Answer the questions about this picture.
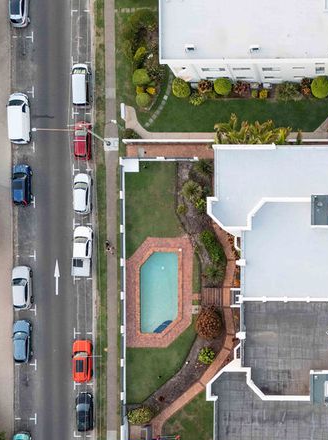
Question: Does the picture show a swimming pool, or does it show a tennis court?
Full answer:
Looking from above, you can make out a swimming pool.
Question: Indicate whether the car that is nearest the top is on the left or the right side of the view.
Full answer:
The car that is nearest the top sits on the left side.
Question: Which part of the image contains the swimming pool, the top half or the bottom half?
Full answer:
It is in the bottom half that the swimming pool appears.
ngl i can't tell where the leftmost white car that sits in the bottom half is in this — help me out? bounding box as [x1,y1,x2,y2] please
[11,267,34,309]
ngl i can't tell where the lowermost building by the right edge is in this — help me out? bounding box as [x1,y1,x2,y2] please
[205,145,328,440]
